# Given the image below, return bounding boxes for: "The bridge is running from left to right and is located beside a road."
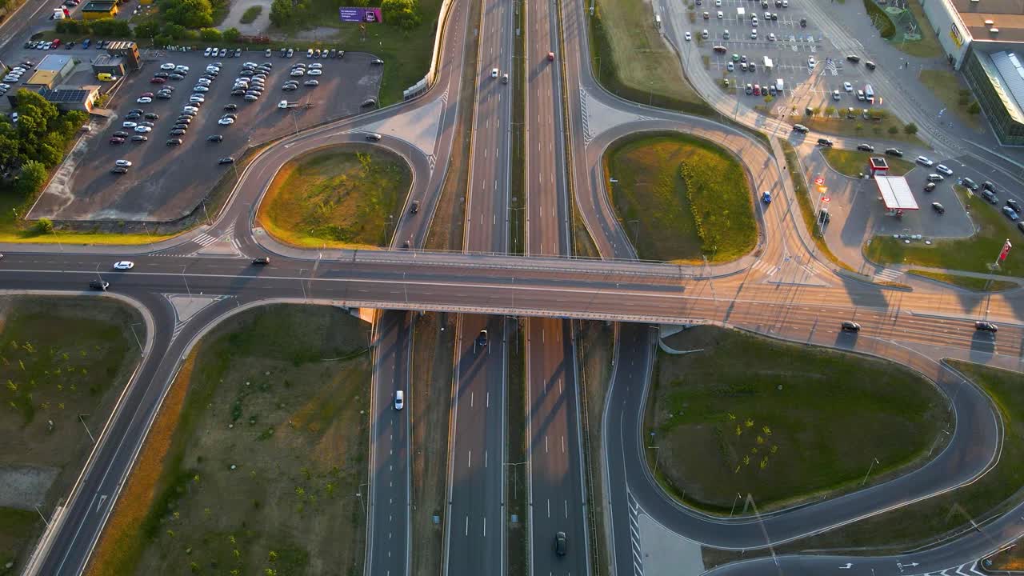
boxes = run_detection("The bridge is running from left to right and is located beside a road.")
[342,246,701,341]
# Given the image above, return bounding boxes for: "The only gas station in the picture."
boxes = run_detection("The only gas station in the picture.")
[868,157,918,228]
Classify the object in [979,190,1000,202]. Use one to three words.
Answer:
vehicle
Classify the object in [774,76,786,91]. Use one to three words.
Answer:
vehicle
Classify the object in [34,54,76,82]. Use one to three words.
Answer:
building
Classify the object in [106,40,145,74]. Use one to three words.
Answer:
building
